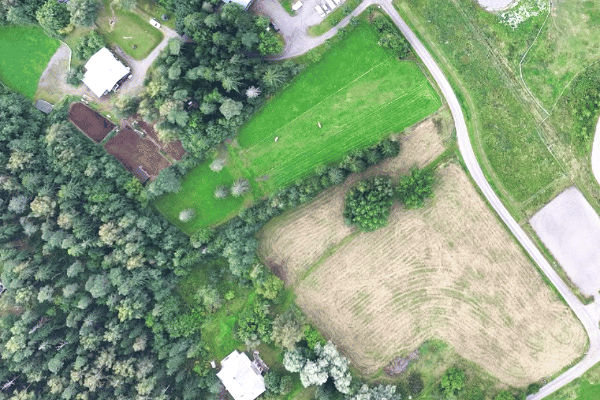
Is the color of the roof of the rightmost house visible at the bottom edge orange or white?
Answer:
white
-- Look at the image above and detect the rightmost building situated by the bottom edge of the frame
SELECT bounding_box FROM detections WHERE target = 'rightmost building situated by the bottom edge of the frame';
[216,355,269,400]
